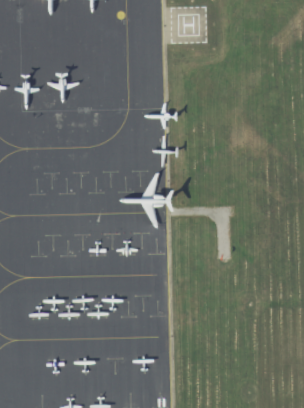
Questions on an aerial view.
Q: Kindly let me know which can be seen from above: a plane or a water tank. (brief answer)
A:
plane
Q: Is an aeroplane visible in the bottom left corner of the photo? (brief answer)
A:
Yes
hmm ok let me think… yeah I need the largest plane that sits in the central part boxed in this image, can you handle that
[120,172,174,228]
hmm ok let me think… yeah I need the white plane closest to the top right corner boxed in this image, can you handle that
[146,102,176,130]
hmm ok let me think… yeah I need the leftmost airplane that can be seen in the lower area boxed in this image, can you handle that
[30,304,51,320]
